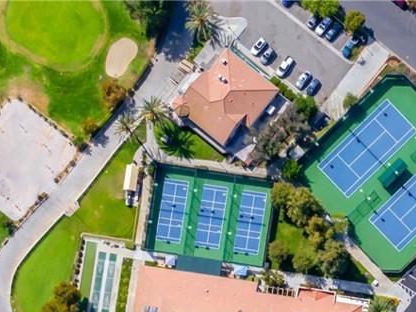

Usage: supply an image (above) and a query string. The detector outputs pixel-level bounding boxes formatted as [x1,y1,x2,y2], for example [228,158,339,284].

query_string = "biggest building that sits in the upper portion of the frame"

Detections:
[173,48,279,147]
